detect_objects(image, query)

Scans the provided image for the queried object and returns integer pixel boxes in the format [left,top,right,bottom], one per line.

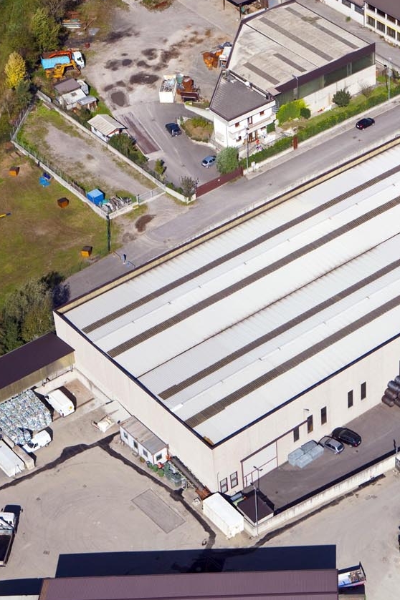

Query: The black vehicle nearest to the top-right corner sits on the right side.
[354,117,377,131]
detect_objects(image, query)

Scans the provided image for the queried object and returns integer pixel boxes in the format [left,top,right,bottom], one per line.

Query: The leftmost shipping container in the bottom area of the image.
[198,488,244,537]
